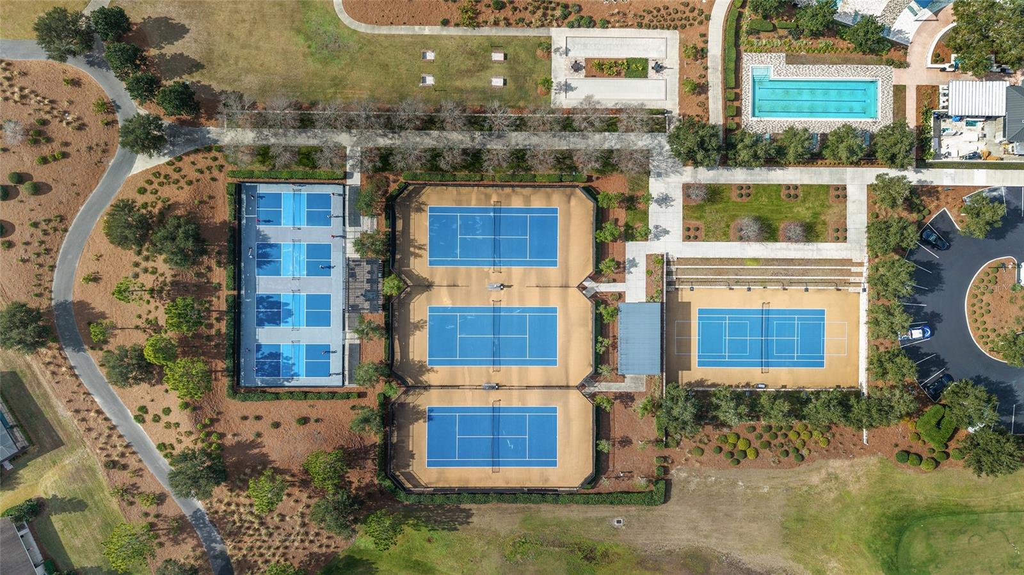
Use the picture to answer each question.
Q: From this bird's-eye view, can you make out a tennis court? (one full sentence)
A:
Yes, there is a tennis court in the image.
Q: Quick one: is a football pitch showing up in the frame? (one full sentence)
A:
No, this view has no football pitch in it.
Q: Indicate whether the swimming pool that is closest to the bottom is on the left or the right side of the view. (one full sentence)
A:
The swimming pool that is closest to the bottom appears in the right half of the scene.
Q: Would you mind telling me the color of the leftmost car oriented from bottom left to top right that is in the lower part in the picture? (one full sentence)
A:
The color of the leftmost car oriented from bottom left to top right that is in the lower part is black.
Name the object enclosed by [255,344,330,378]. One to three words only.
sports court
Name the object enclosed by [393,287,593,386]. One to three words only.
tennis court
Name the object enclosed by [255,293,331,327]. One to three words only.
sports court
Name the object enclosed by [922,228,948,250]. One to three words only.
car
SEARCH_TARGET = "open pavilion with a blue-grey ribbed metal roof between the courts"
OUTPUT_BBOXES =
[615,303,661,375]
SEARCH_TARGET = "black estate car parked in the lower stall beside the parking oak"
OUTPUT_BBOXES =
[924,375,952,398]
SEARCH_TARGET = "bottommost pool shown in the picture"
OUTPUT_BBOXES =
[742,52,893,133]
